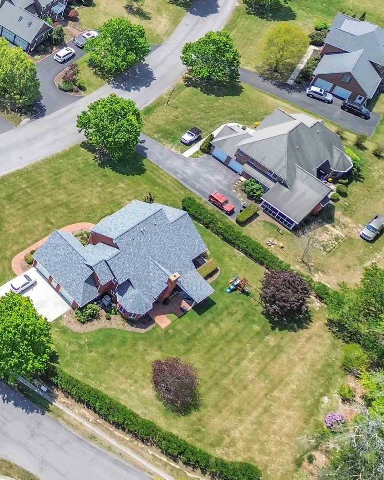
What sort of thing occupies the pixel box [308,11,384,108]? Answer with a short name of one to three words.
house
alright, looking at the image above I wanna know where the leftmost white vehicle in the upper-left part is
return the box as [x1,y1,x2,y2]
[52,47,77,62]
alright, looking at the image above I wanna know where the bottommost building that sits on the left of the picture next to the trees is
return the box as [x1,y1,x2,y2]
[33,199,215,322]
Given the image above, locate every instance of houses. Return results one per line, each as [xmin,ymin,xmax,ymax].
[33,199,215,322]
[210,95,358,231]
[0,0,71,51]
[308,11,384,108]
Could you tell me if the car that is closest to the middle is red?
Yes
